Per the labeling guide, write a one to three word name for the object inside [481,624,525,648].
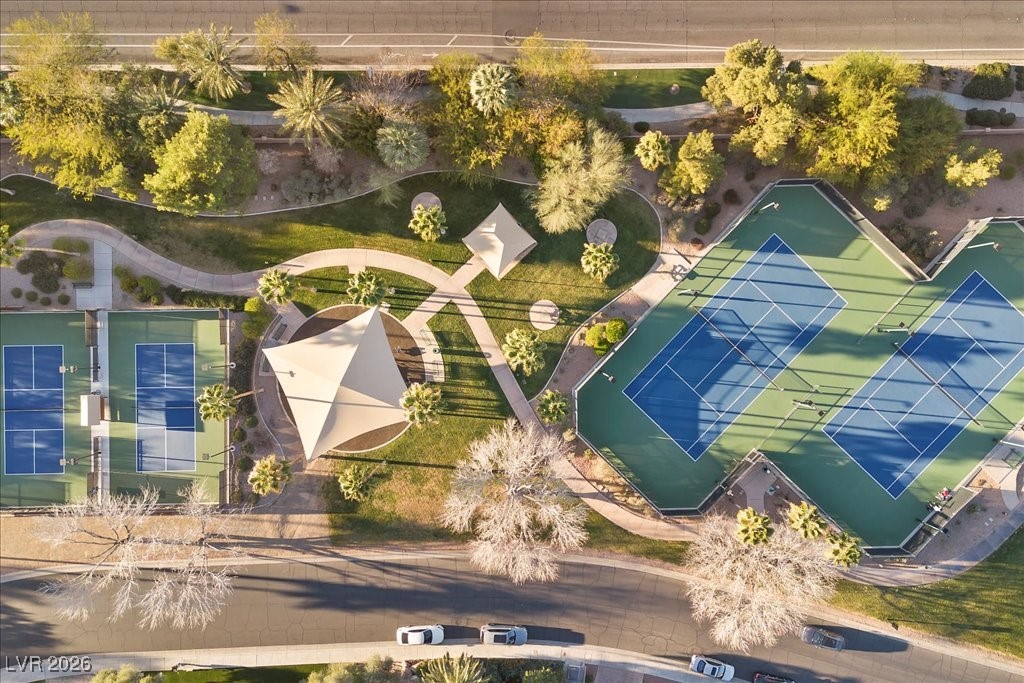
car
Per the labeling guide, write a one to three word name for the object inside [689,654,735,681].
car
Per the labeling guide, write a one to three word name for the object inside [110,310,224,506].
sports court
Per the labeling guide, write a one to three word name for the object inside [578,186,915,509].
tennis court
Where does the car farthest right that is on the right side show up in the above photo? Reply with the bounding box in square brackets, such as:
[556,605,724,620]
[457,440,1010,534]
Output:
[801,624,846,652]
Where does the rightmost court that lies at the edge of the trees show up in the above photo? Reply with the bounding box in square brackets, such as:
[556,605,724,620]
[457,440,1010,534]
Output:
[758,222,1024,547]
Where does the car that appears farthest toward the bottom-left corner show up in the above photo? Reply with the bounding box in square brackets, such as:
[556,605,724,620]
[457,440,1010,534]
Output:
[398,625,442,649]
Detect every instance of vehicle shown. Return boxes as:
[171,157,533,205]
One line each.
[754,669,800,683]
[689,654,735,681]
[481,624,525,648]
[398,625,442,649]
[801,624,846,652]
